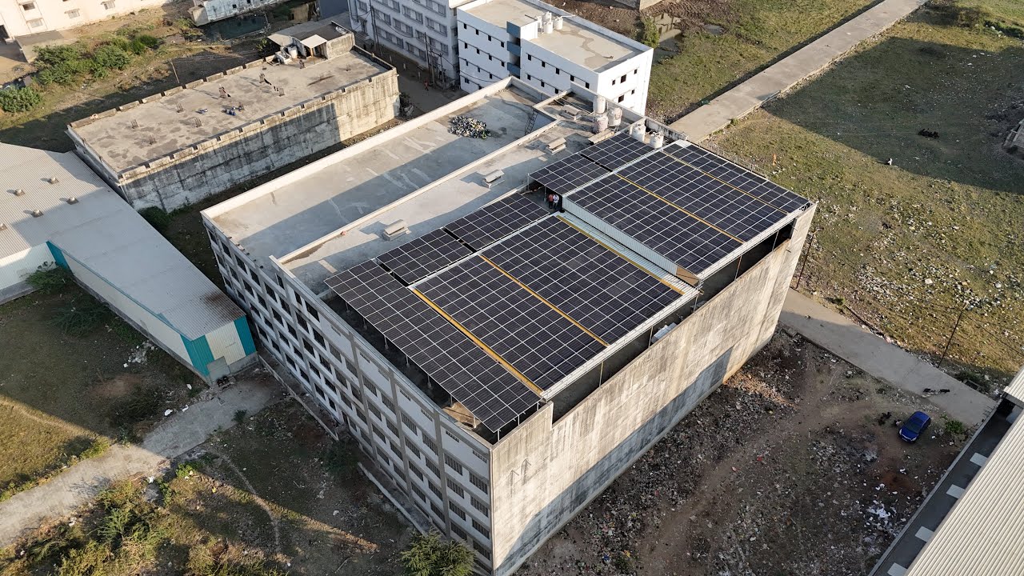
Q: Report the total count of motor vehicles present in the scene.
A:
1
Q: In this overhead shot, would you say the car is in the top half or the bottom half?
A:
bottom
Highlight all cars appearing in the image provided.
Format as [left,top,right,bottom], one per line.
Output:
[901,409,930,441]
